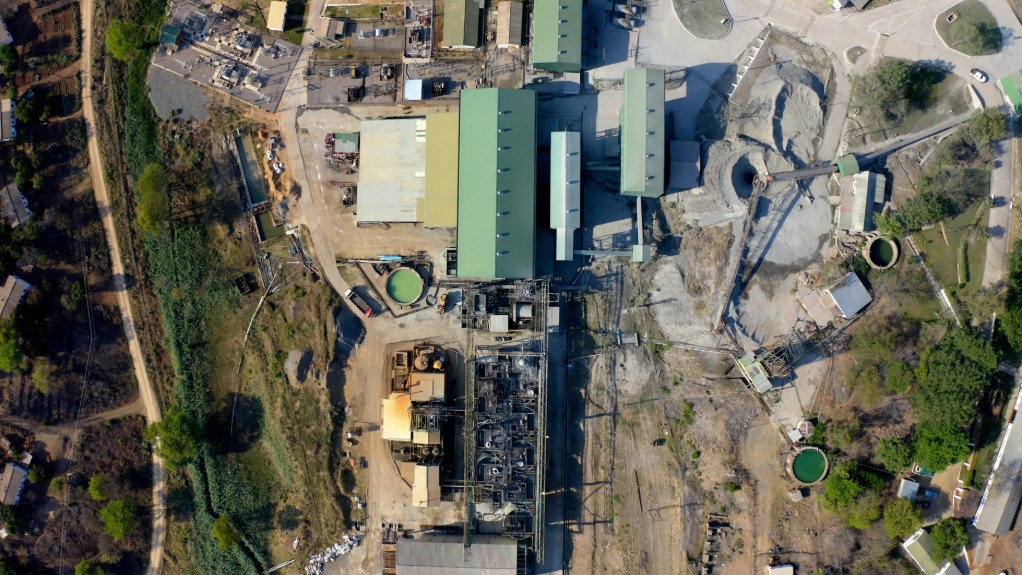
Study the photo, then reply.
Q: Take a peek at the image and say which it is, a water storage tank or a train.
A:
water storage tank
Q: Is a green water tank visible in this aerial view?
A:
Yes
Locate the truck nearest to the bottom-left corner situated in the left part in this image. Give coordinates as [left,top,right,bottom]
[342,289,373,318]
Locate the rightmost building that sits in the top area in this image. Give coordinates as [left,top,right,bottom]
[993,73,1022,114]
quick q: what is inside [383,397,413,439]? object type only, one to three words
shed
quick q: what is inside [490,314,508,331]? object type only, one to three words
building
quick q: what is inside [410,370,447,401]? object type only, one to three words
house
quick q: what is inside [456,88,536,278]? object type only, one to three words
building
